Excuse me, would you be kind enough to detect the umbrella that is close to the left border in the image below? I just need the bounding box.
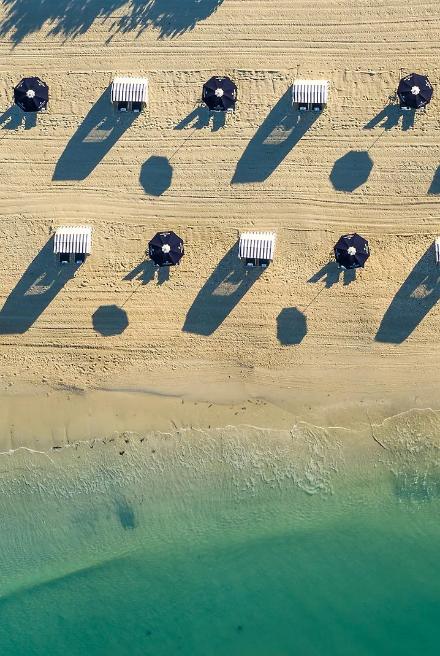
[15,77,48,112]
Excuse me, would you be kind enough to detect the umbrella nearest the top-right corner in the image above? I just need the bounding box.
[397,74,433,109]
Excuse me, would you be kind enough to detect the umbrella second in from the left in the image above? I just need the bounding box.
[149,231,184,266]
